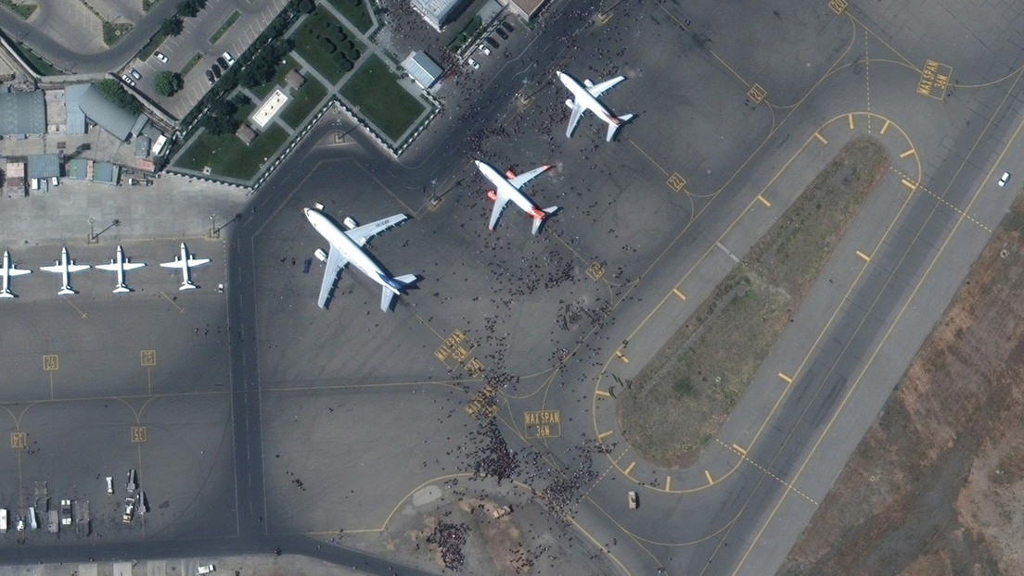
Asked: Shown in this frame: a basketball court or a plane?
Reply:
plane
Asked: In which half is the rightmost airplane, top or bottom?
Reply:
top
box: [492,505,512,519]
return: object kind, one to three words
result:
vehicle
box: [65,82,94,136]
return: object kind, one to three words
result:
shed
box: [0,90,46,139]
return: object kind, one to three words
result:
building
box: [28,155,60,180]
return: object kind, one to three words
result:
building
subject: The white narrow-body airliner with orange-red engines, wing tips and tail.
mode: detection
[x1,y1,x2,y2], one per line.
[475,160,556,228]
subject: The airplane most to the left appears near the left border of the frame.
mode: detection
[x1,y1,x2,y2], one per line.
[0,251,31,296]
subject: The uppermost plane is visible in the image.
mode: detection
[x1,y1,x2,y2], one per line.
[556,72,631,138]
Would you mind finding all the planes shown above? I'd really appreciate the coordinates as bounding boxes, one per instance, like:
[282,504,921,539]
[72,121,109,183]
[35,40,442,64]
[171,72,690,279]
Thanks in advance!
[475,160,556,228]
[41,248,91,292]
[0,251,31,296]
[160,243,210,288]
[304,208,414,309]
[556,72,631,138]
[95,246,145,291]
